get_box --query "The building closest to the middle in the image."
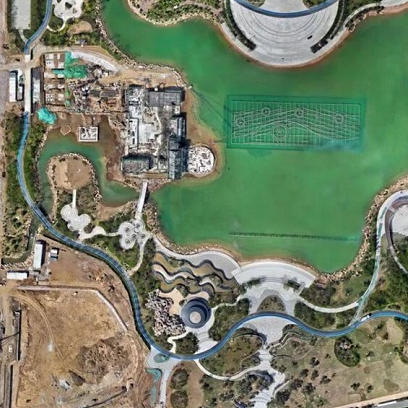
[169,150,186,180]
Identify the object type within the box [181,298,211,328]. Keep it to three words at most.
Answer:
building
